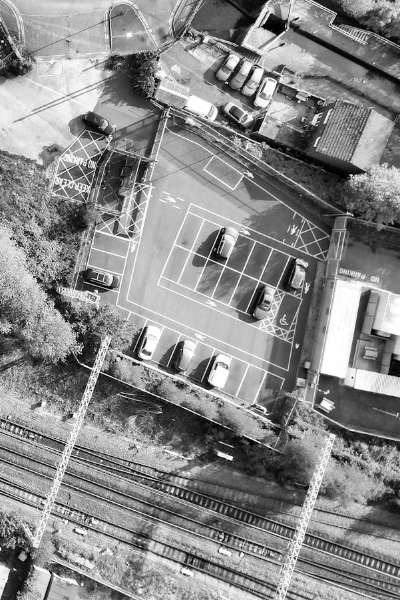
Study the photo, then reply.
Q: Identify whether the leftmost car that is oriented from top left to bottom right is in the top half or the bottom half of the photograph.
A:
top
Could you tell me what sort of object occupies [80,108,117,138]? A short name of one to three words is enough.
car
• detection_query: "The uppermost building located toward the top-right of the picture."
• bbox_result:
[296,98,397,171]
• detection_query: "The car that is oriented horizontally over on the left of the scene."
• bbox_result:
[82,269,119,287]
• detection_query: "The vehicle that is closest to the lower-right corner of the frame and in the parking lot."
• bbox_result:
[206,352,231,389]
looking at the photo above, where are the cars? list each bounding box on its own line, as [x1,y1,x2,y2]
[286,258,309,290]
[137,324,159,359]
[175,338,195,371]
[240,64,265,98]
[250,74,279,110]
[82,269,119,287]
[80,108,117,138]
[251,284,276,320]
[214,52,239,84]
[221,101,254,126]
[214,225,239,260]
[228,59,254,91]
[206,352,231,389]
